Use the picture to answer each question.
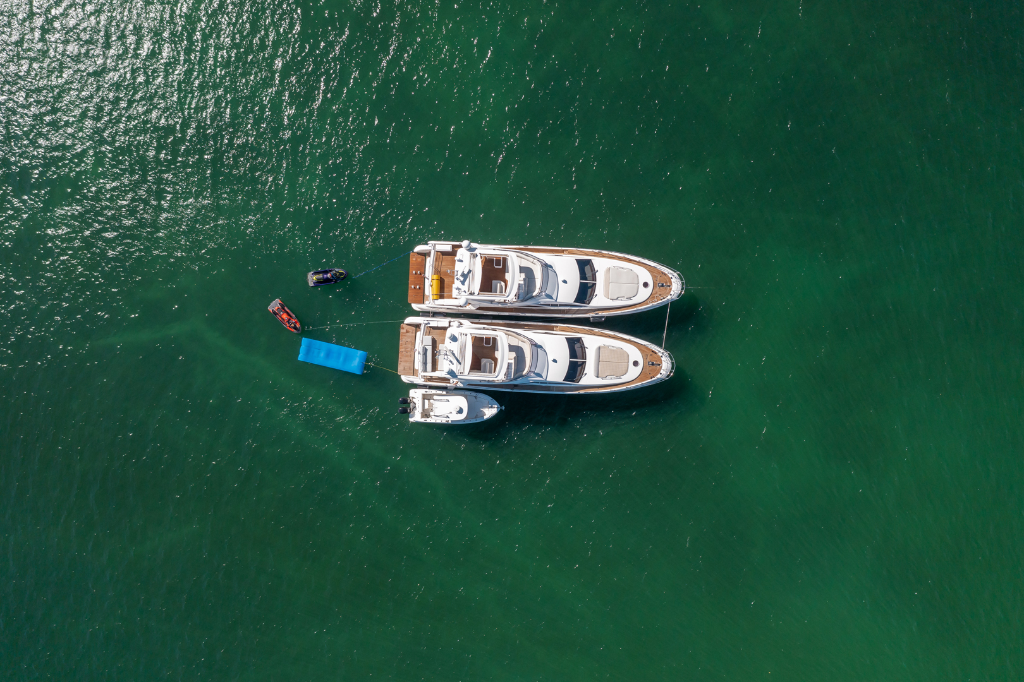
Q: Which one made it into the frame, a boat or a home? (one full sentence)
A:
Looking from above, you can make out a boat.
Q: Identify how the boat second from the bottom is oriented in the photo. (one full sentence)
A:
The boat second from the bottom is laid out from side to side.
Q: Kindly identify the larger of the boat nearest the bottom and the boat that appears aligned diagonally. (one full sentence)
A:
Of the two, the boat nearest the bottom is larger and the boat that appears aligned diagonally is the smaller one.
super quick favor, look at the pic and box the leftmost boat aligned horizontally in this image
[308,269,348,286]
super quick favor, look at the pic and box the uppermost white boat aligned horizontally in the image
[408,240,687,317]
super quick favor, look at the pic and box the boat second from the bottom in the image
[398,317,677,394]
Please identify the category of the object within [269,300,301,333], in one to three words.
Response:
boat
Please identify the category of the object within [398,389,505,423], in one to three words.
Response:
boat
